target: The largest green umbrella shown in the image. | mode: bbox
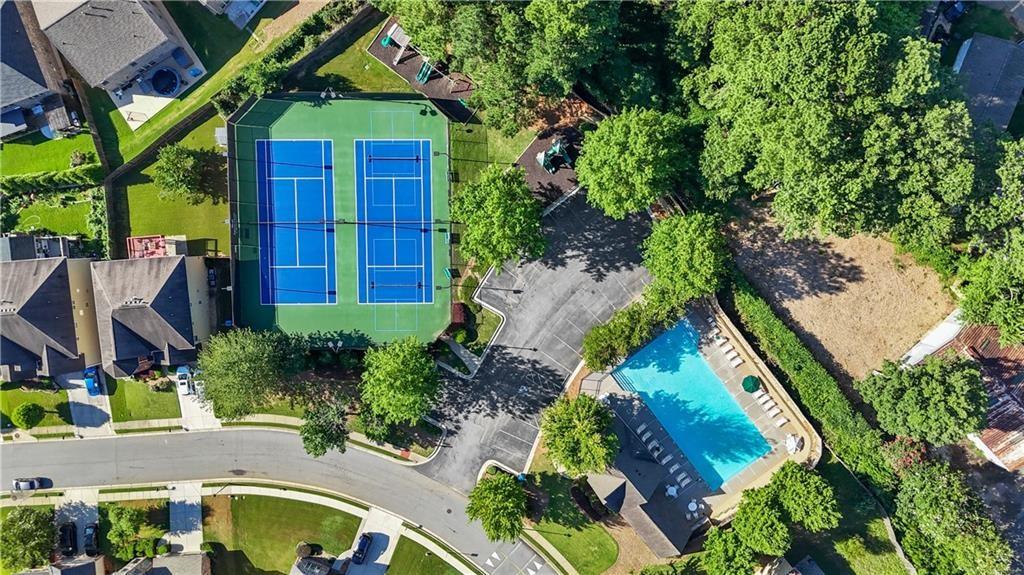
[742,374,760,393]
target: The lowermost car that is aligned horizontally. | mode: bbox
[6,478,39,494]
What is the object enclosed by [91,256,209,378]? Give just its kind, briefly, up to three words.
house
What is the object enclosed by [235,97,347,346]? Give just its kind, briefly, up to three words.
tennis court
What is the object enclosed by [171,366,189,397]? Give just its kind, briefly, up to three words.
car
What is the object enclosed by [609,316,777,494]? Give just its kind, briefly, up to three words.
swimming pool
